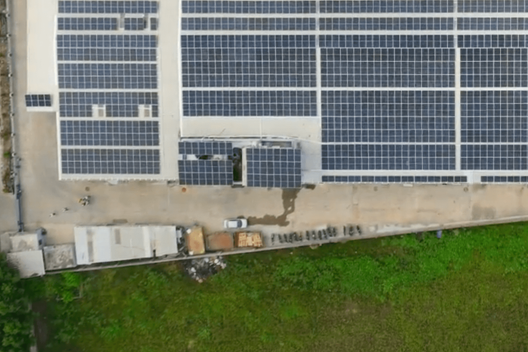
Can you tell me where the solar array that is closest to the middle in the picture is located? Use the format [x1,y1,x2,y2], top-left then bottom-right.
[247,148,301,187]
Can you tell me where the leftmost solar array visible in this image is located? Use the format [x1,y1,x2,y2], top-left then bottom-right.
[25,94,52,106]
